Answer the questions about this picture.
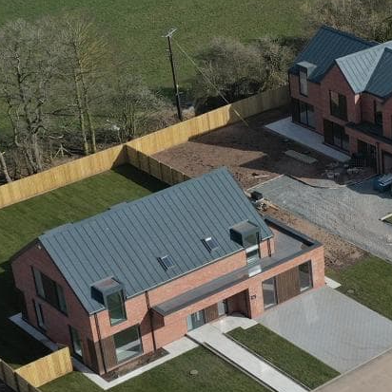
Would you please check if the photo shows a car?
No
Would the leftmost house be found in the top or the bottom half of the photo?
bottom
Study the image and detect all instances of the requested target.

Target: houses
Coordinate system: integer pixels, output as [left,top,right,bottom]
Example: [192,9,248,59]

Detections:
[4,164,329,378]
[286,27,392,174]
